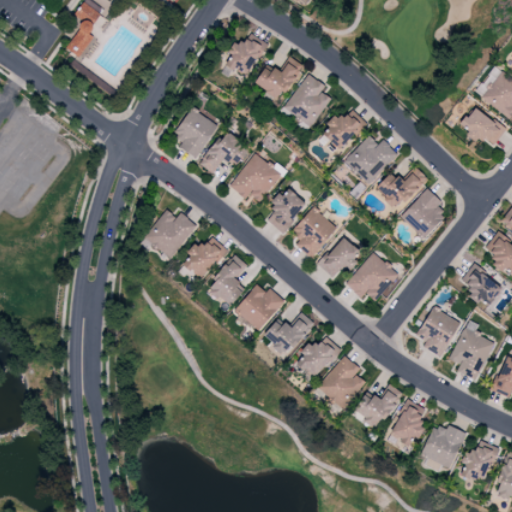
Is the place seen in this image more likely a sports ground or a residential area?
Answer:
residential area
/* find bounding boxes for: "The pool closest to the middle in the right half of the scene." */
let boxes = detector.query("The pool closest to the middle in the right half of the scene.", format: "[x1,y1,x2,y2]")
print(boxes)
[330,198,350,218]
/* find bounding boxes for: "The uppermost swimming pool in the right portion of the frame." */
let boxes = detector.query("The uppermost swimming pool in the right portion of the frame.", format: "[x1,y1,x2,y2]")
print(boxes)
[310,144,330,162]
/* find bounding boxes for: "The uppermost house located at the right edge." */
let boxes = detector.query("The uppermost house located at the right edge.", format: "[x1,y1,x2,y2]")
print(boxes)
[480,68,512,119]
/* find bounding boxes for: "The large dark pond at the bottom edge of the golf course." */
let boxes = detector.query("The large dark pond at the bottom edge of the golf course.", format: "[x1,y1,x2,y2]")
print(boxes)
[139,436,318,512]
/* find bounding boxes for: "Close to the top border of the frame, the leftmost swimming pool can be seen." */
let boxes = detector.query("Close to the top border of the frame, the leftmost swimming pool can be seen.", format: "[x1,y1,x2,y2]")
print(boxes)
[95,25,142,76]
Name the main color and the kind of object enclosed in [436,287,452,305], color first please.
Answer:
blue swimming pool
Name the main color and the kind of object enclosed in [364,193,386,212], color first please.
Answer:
blue swimming pool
